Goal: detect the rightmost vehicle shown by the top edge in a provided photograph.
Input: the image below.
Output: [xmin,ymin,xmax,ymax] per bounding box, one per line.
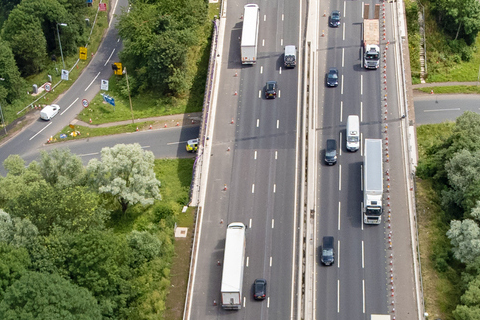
[364,1,382,68]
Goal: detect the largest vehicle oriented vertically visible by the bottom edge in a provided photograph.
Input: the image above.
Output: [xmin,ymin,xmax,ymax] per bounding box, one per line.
[221,221,248,310]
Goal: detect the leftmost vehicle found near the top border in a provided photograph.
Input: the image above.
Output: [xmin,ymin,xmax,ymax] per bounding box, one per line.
[241,3,261,63]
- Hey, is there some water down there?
No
